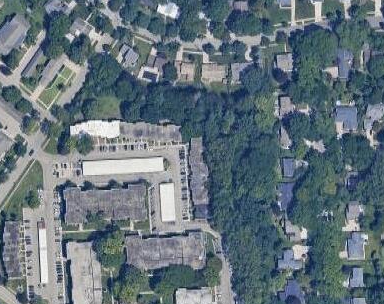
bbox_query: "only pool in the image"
[140,66,160,83]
